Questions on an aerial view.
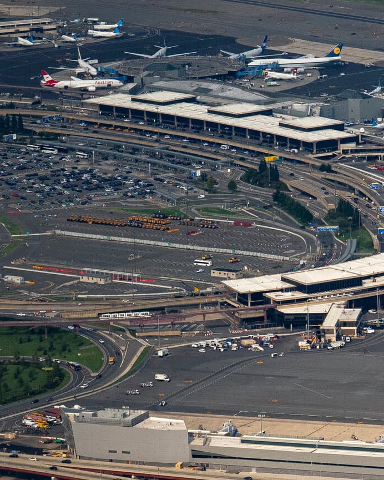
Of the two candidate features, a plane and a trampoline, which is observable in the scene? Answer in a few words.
plane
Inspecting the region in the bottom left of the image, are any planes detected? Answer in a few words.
No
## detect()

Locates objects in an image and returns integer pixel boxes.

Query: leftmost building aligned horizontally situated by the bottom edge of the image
[60,404,190,466]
